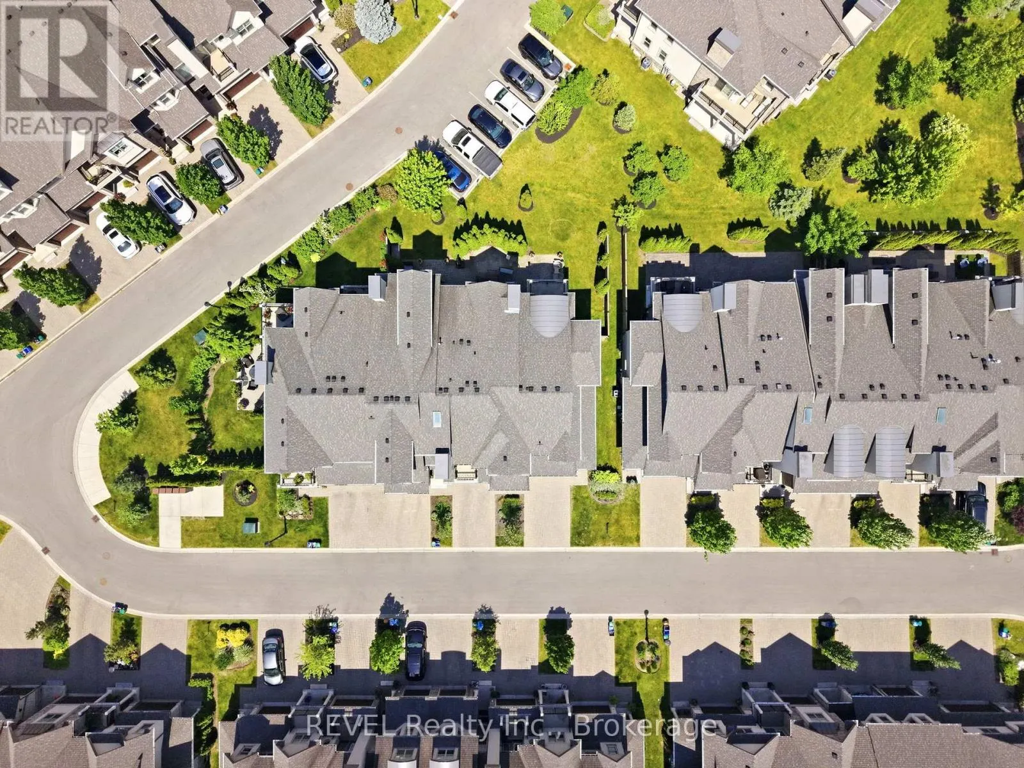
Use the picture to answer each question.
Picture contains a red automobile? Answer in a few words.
No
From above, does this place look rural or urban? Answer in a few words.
urban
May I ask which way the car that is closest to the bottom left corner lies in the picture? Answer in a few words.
from top to bottom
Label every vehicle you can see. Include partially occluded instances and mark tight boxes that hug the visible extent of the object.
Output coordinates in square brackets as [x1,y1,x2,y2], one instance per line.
[97,216,143,263]
[480,76,543,137]
[294,35,340,88]
[442,119,505,181]
[427,147,477,196]
[498,56,547,106]
[260,633,286,683]
[515,31,566,82]
[464,101,515,151]
[146,173,195,227]
[199,138,246,191]
[404,625,429,679]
